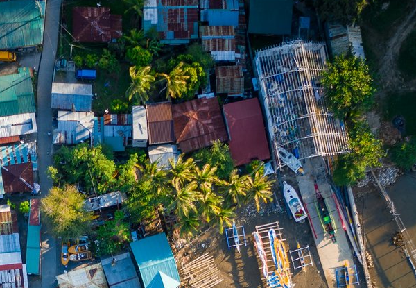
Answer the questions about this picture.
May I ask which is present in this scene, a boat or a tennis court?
boat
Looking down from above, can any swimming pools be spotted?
No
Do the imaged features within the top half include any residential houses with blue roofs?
Yes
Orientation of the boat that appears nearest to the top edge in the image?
diagonally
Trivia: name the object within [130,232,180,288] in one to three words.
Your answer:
house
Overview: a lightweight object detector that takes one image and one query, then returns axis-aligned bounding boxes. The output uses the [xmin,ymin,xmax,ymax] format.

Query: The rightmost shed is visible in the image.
[328,25,365,63]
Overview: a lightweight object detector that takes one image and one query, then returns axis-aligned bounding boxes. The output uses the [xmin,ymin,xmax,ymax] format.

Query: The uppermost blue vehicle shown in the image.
[76,70,97,83]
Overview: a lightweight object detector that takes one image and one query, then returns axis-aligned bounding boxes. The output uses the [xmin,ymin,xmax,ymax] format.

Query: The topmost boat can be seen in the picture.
[277,147,306,177]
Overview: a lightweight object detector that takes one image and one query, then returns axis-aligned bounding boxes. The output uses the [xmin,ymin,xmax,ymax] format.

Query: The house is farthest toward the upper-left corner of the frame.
[0,0,46,54]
